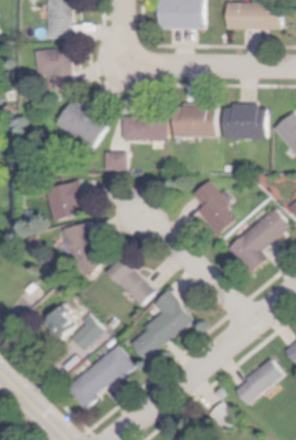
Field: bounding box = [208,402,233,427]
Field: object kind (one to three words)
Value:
building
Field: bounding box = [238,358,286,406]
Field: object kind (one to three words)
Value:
house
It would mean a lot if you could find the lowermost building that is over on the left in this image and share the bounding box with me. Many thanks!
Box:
[72,345,138,407]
